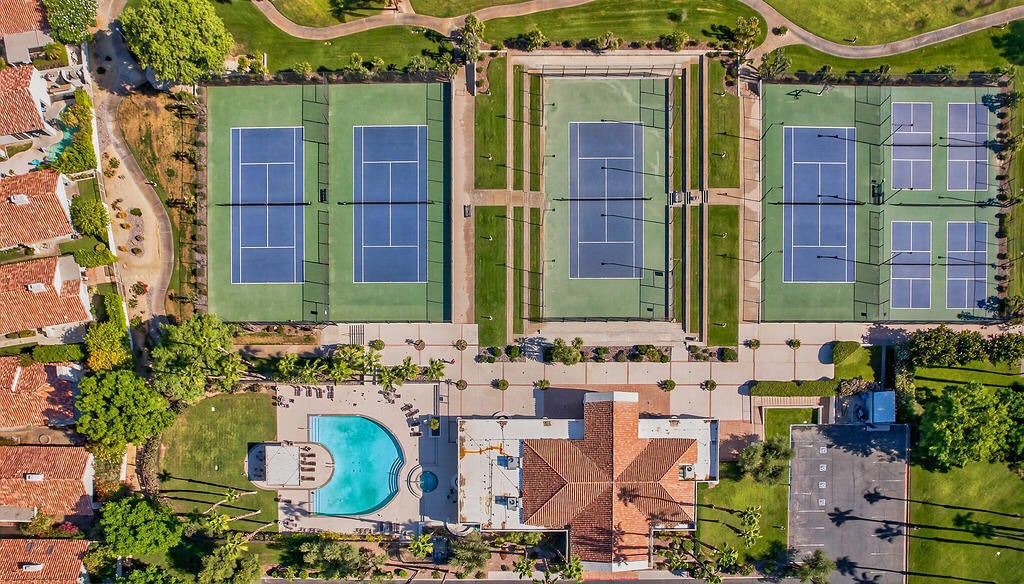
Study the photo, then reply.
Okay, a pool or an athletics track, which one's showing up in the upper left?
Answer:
pool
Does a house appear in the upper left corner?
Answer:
Yes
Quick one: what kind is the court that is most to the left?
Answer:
tennis court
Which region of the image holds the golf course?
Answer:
top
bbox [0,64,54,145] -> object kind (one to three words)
house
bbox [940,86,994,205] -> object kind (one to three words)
sports court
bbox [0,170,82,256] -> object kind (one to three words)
house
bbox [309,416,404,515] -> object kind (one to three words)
swimming pool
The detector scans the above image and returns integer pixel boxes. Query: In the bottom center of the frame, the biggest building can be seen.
[457,392,719,569]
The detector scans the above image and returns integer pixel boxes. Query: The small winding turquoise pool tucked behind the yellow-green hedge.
[44,100,77,162]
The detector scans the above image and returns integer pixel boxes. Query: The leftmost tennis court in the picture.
[207,85,329,322]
